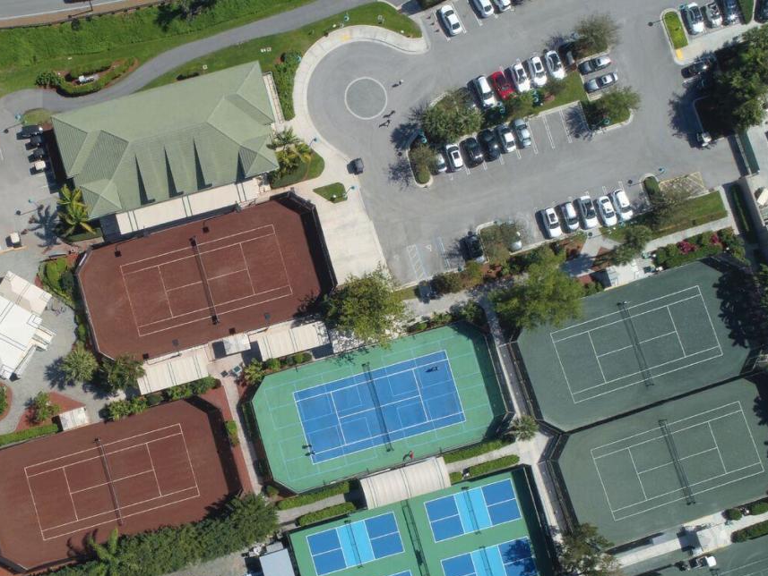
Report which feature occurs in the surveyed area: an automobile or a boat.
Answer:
automobile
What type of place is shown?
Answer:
sports ground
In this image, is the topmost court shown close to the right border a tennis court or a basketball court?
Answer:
tennis court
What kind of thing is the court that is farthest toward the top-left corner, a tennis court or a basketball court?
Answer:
tennis court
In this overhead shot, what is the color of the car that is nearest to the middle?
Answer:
black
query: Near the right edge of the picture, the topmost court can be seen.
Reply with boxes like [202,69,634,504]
[524,262,758,428]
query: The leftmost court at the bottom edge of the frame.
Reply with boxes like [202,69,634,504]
[0,395,241,570]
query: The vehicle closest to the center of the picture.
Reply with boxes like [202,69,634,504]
[462,231,485,265]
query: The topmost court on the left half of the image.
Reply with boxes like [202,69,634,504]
[79,197,333,364]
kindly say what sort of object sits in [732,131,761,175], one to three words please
building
